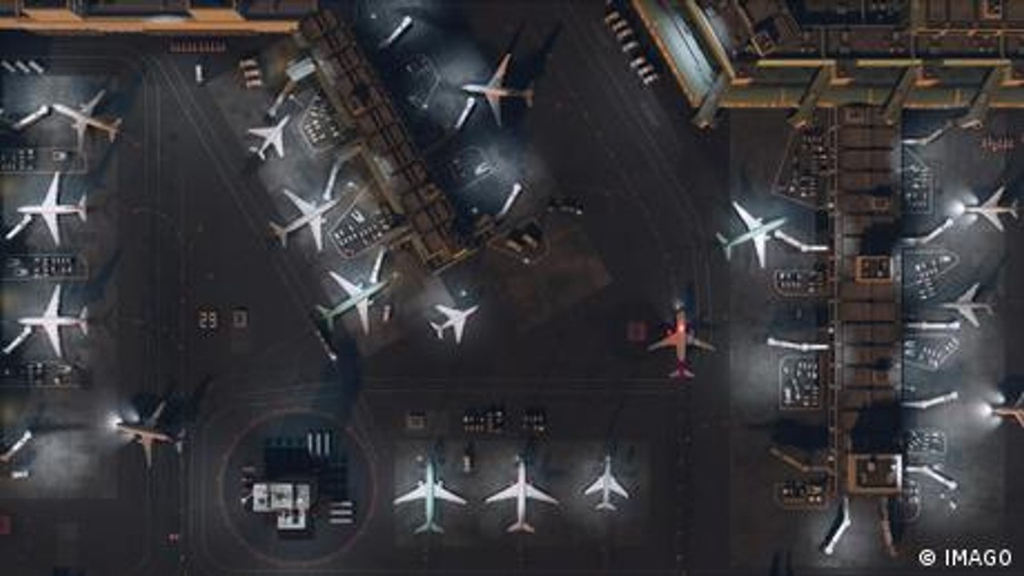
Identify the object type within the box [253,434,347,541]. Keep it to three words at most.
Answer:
building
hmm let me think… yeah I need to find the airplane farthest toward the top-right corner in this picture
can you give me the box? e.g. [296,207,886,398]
[967,187,1023,232]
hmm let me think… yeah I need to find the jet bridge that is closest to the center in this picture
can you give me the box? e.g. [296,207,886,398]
[494,183,522,217]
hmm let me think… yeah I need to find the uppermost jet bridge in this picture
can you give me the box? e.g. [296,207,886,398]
[369,15,413,54]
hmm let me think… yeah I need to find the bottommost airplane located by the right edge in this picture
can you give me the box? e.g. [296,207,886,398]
[993,394,1024,438]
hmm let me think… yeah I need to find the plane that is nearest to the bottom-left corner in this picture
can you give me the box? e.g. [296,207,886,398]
[116,401,188,466]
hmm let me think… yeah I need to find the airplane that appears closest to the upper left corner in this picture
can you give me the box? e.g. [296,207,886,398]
[51,84,123,144]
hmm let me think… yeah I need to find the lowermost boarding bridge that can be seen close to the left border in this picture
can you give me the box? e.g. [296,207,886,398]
[0,431,35,461]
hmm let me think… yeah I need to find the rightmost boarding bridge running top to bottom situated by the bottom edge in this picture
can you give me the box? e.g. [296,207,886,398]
[882,496,896,556]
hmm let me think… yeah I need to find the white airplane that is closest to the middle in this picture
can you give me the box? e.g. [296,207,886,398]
[427,298,480,342]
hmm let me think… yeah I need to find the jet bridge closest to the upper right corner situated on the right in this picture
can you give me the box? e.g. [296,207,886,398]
[902,124,948,145]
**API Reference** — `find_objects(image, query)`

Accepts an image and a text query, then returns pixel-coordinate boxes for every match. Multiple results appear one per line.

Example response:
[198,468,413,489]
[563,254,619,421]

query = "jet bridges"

[320,150,359,201]
[13,105,51,129]
[2,327,35,355]
[442,95,477,141]
[902,124,948,145]
[367,239,394,284]
[903,465,957,490]
[768,446,826,472]
[766,334,826,349]
[266,82,295,119]
[0,431,35,461]
[4,214,36,241]
[494,183,522,217]
[882,496,896,556]
[902,391,959,408]
[902,218,954,244]
[369,15,413,54]
[822,496,851,555]
[773,228,826,251]
[0,107,5,119]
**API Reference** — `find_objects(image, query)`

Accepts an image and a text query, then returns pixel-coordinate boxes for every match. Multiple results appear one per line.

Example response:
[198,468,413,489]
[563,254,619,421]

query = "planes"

[16,285,86,359]
[311,267,391,333]
[993,394,1024,438]
[648,309,716,379]
[392,462,466,537]
[715,201,786,266]
[51,84,123,144]
[584,457,630,519]
[16,172,85,246]
[261,185,337,249]
[944,285,997,329]
[116,401,188,466]
[427,298,480,342]
[462,53,536,126]
[967,187,1023,232]
[248,114,289,162]
[484,462,559,536]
